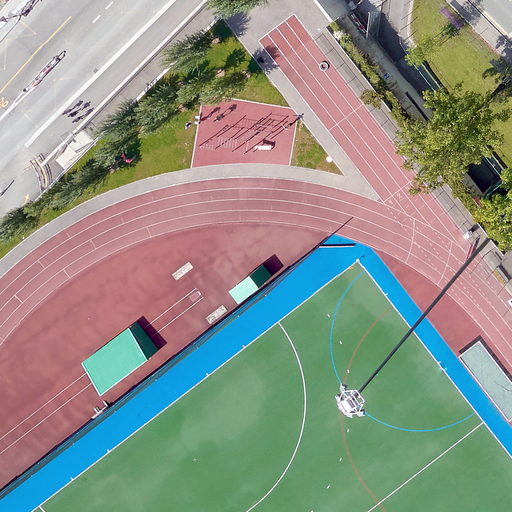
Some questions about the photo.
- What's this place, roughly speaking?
sports ground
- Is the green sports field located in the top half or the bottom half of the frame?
bottom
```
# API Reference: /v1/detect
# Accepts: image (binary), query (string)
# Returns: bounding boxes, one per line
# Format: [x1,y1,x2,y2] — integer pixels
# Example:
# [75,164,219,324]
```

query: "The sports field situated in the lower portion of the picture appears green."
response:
[0,232,512,512]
